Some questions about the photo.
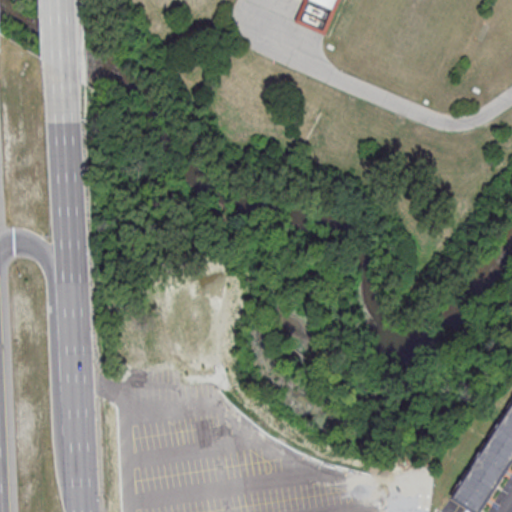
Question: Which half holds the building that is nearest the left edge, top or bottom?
top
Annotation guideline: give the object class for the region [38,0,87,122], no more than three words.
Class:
bridge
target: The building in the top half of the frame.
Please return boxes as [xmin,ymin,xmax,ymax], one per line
[295,0,340,34]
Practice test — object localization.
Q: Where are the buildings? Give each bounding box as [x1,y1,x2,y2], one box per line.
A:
[295,0,340,34]
[454,408,512,512]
